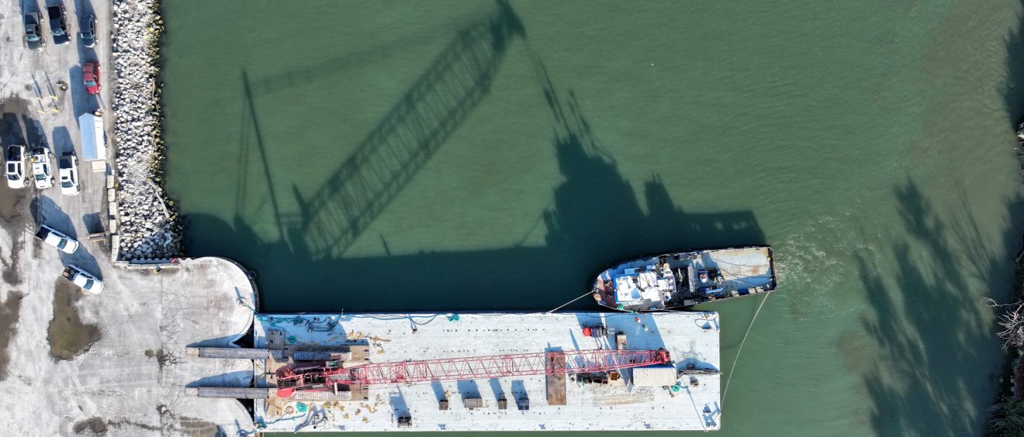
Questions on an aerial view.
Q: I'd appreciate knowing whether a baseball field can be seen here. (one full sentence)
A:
No, the scene contains no baseball field.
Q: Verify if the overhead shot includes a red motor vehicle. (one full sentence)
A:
Yes, the picture does show a red motor vehicle.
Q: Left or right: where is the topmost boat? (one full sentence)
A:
You can find the topmost boat on the right side of the picture.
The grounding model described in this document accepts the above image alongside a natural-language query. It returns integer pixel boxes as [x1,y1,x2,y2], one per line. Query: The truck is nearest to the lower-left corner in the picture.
[60,262,107,294]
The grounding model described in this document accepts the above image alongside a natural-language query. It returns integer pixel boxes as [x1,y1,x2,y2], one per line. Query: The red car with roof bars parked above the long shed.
[83,60,103,96]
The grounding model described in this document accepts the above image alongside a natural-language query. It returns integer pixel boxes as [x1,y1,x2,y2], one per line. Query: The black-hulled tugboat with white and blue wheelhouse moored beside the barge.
[591,244,777,312]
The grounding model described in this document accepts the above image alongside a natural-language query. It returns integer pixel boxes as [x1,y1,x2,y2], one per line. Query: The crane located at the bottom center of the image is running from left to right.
[266,339,673,406]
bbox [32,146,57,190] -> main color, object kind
white truck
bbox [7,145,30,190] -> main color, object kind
white truck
